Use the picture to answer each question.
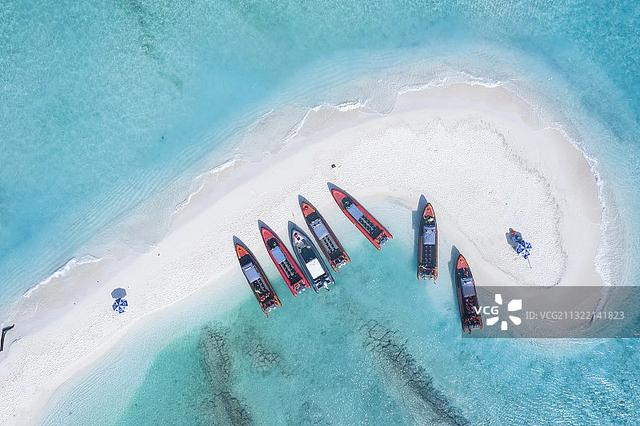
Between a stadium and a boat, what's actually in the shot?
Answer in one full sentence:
The one in the frame is a boat.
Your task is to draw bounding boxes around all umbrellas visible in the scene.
[111,296,129,315]
[515,240,534,259]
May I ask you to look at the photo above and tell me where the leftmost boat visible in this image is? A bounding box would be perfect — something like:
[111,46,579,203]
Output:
[234,245,281,315]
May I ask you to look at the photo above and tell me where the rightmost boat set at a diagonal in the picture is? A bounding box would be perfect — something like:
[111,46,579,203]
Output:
[331,189,391,249]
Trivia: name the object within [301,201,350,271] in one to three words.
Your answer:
boat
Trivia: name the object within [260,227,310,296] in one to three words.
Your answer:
boat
